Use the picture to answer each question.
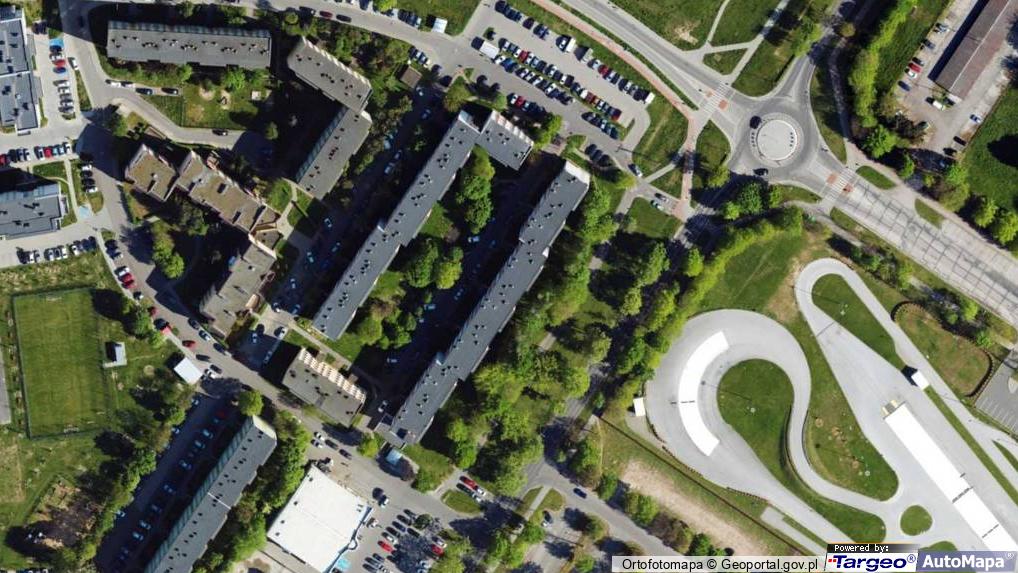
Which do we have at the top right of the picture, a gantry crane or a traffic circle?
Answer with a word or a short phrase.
traffic circle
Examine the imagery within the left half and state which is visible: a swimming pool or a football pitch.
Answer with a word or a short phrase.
football pitch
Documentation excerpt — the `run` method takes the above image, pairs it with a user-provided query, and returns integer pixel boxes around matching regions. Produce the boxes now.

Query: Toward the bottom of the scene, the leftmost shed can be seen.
[103,340,127,367]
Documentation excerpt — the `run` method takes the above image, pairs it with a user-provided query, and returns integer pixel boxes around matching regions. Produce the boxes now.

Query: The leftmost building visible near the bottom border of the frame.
[143,417,276,573]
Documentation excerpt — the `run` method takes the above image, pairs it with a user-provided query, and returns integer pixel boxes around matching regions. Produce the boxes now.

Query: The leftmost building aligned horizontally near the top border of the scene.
[106,20,270,70]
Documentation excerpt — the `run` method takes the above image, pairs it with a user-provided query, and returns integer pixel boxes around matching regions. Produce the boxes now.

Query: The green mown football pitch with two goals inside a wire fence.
[15,290,113,437]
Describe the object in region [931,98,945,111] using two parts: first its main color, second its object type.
white vehicle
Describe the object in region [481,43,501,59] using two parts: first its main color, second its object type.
white vehicle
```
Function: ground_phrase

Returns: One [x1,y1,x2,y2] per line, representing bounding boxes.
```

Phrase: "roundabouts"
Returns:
[734,97,819,182]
